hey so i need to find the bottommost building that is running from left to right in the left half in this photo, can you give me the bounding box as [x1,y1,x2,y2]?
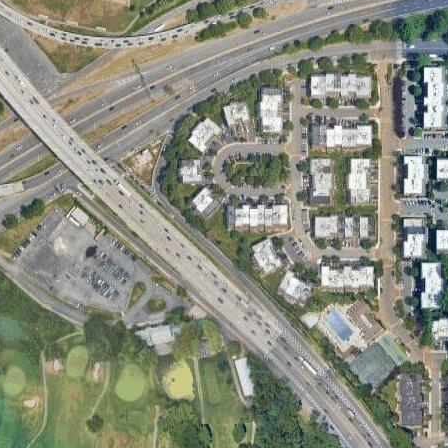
[136,324,180,344]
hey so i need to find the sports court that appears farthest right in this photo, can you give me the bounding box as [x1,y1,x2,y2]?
[378,330,409,367]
